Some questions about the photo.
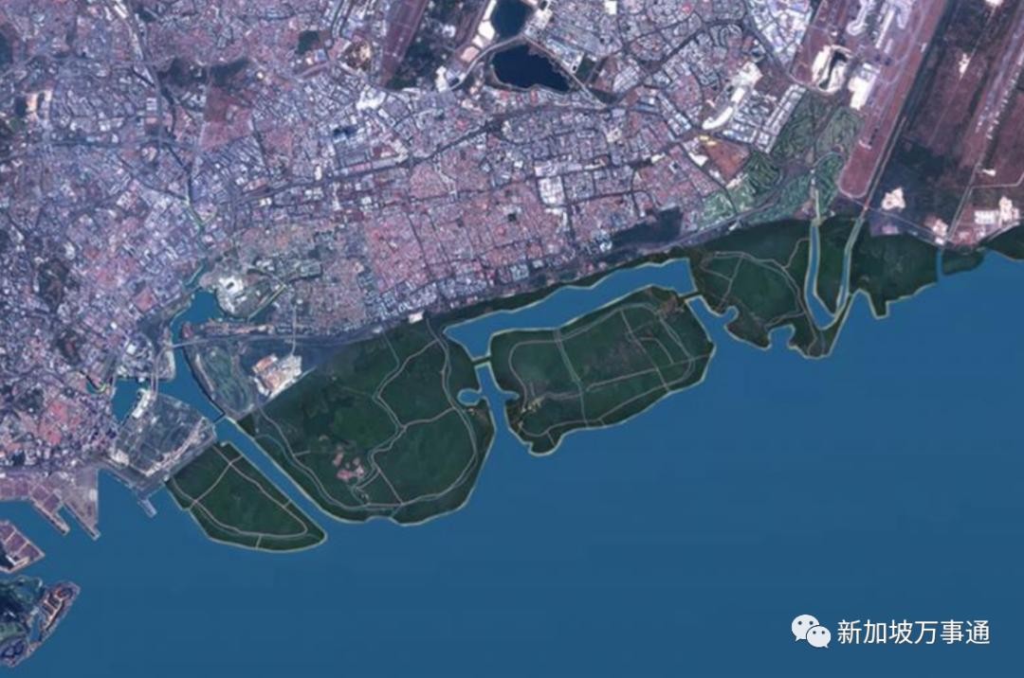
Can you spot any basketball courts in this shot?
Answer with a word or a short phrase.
No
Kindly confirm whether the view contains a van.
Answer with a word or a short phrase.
No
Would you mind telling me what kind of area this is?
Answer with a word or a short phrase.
port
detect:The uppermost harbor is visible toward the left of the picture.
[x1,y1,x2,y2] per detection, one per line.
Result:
[0,469,100,540]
